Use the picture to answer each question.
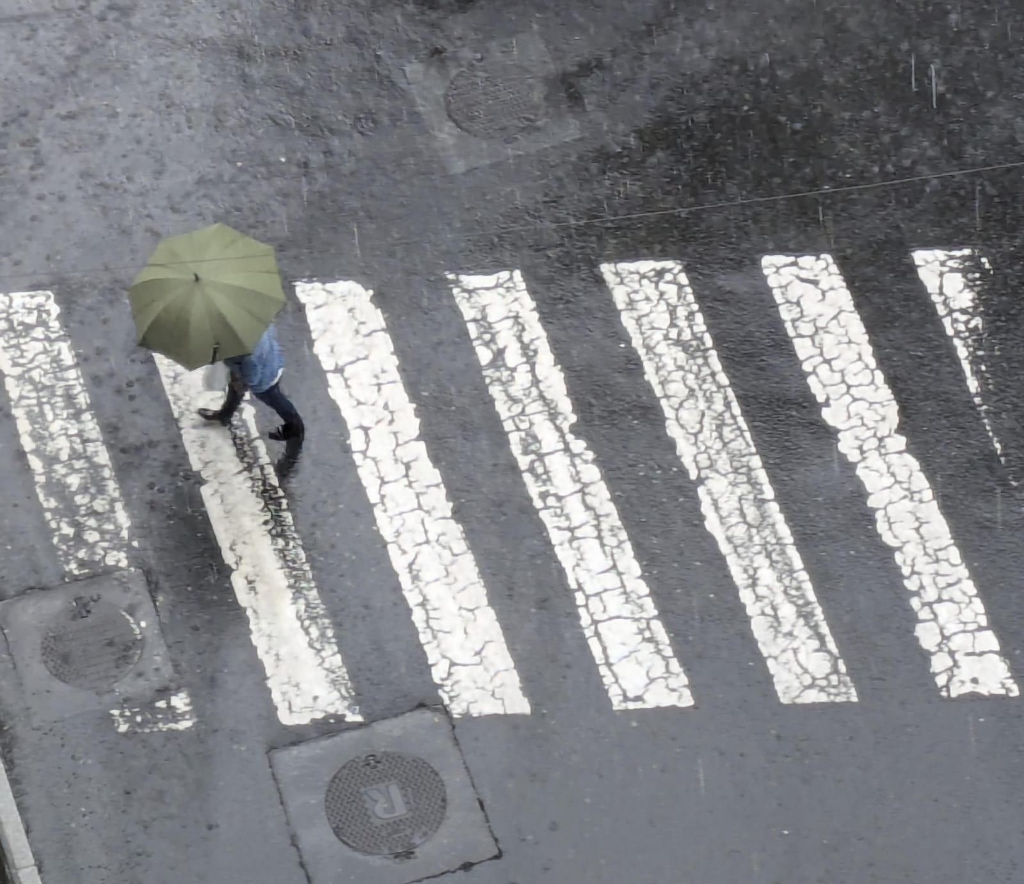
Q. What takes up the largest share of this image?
paved ground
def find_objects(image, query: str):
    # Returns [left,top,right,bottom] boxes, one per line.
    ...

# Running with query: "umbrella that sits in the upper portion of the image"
[128,220,288,376]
